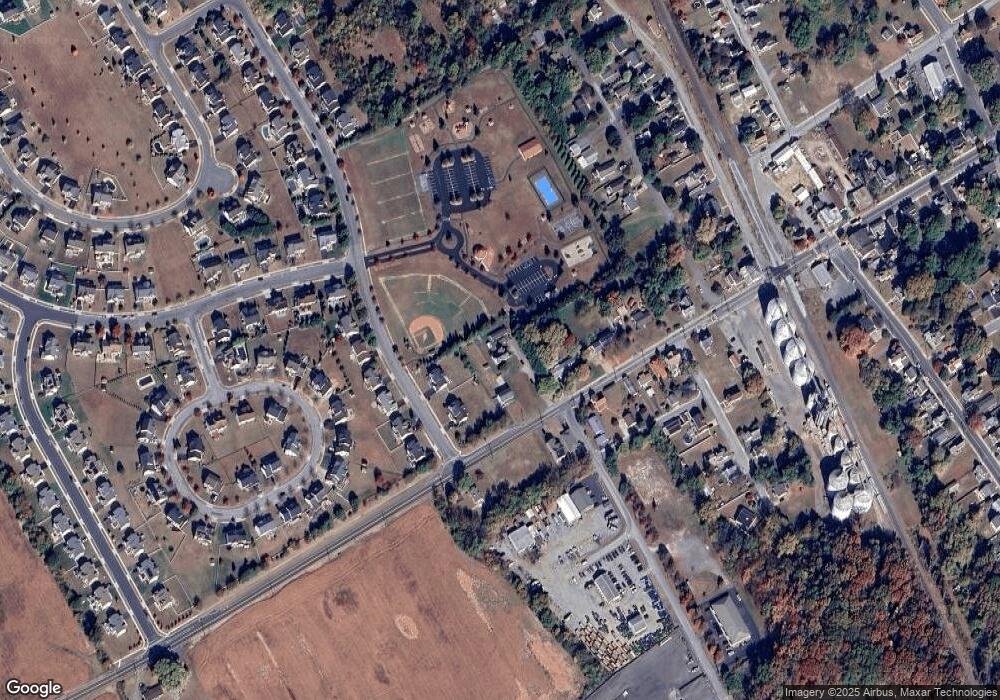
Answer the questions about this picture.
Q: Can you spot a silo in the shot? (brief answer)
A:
Yes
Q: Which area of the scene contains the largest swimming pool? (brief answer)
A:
top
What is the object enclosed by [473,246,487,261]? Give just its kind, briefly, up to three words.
gazebo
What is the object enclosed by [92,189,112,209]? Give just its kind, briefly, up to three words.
house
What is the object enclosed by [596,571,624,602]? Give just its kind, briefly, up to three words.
building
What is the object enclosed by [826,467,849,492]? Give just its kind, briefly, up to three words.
silo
